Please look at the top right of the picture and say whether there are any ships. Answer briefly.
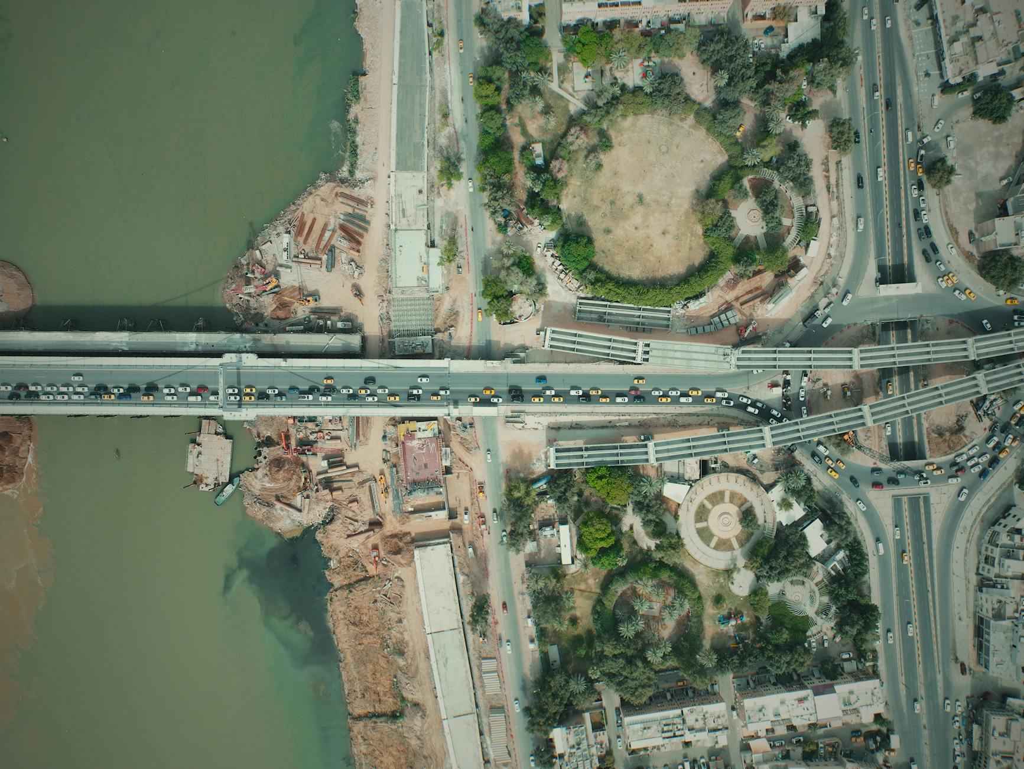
No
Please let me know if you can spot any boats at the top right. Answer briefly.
No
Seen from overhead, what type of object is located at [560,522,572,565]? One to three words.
shed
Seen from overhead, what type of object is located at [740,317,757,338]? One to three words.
vehicle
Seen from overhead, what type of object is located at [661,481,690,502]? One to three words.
building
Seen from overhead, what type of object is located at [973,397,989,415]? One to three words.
work vehicle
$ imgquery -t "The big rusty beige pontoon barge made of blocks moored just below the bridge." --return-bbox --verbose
[183,419,234,490]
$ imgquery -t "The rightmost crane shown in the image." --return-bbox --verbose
[840,429,930,484]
